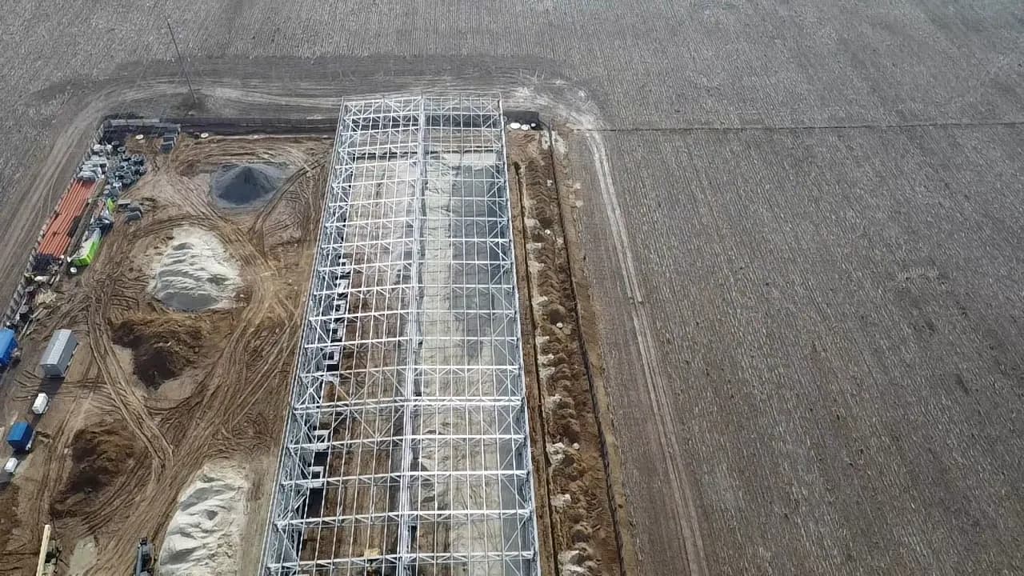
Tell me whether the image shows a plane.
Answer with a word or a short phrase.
No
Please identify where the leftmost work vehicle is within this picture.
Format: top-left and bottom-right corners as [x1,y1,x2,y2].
[29,518,66,576]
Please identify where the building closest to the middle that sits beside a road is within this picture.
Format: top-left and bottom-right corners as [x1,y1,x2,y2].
[252,90,540,576]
